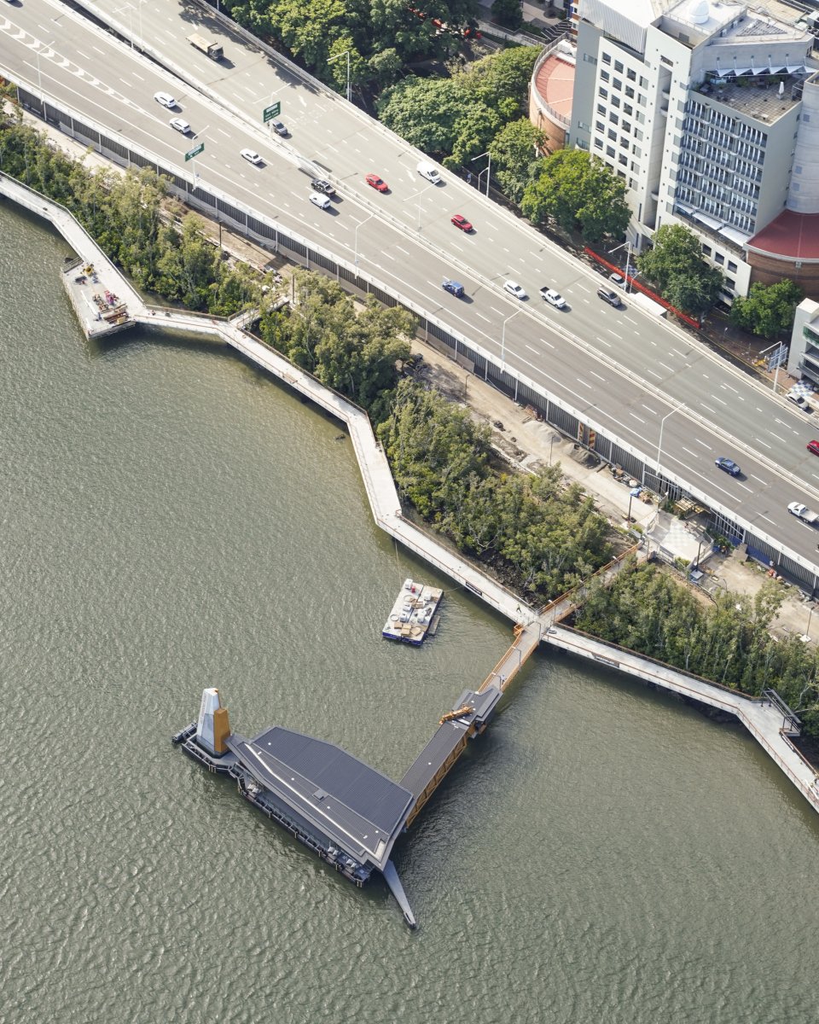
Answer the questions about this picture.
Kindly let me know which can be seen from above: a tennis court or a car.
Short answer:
car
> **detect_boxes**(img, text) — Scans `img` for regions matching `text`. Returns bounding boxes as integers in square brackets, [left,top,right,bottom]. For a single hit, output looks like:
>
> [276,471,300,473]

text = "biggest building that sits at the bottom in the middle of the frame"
[175,685,502,896]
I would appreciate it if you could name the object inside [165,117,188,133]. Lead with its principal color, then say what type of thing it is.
white car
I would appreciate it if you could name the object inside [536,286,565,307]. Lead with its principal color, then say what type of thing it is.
white truck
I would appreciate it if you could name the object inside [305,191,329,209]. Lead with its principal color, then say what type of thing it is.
white vehicle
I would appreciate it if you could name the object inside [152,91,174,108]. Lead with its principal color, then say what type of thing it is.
white car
